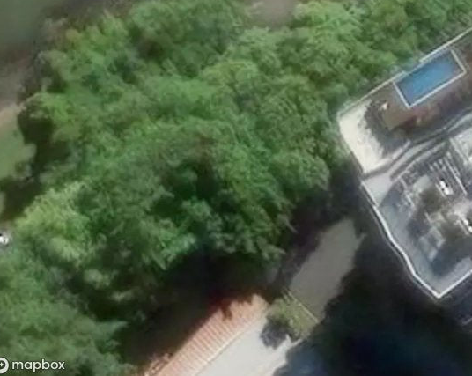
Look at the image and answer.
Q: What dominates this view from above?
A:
trees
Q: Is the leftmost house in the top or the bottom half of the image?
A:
bottom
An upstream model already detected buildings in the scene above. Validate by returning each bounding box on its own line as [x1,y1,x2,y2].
[152,290,311,376]
[334,28,472,318]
